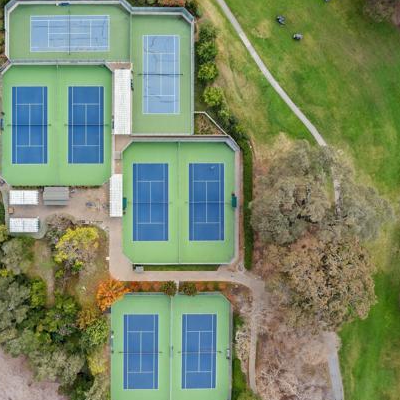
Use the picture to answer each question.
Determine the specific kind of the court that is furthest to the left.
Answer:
tennis court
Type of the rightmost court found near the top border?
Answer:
tennis court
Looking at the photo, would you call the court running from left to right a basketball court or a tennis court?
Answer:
tennis court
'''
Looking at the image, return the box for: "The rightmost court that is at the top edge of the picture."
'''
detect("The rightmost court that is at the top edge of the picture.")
[131,15,191,134]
